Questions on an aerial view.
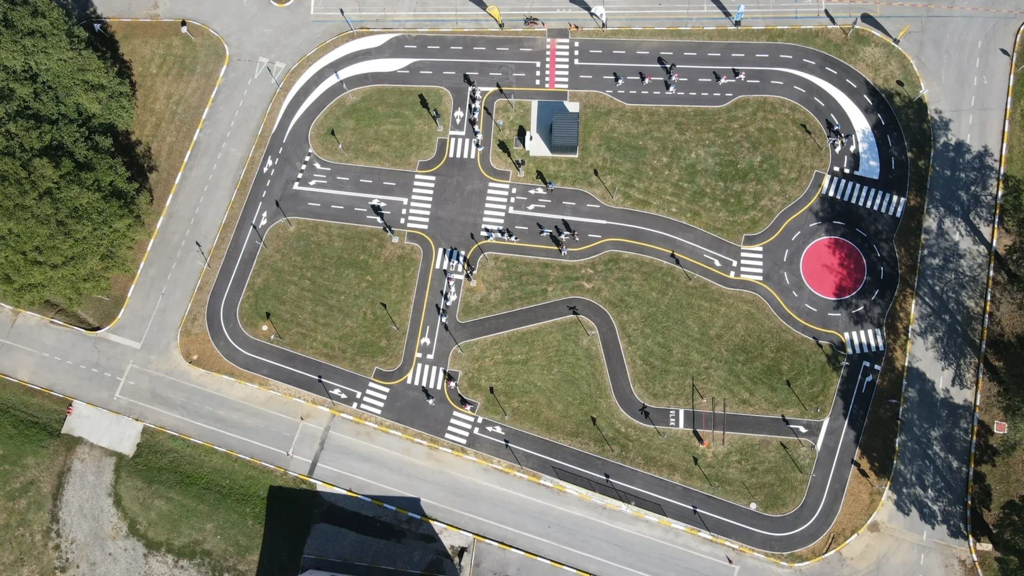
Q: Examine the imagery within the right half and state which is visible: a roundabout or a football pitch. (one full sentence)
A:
It is a roundabout that can be seen within the right half.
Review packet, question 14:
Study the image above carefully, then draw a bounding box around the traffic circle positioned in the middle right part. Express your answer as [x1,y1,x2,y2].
[784,221,883,316]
